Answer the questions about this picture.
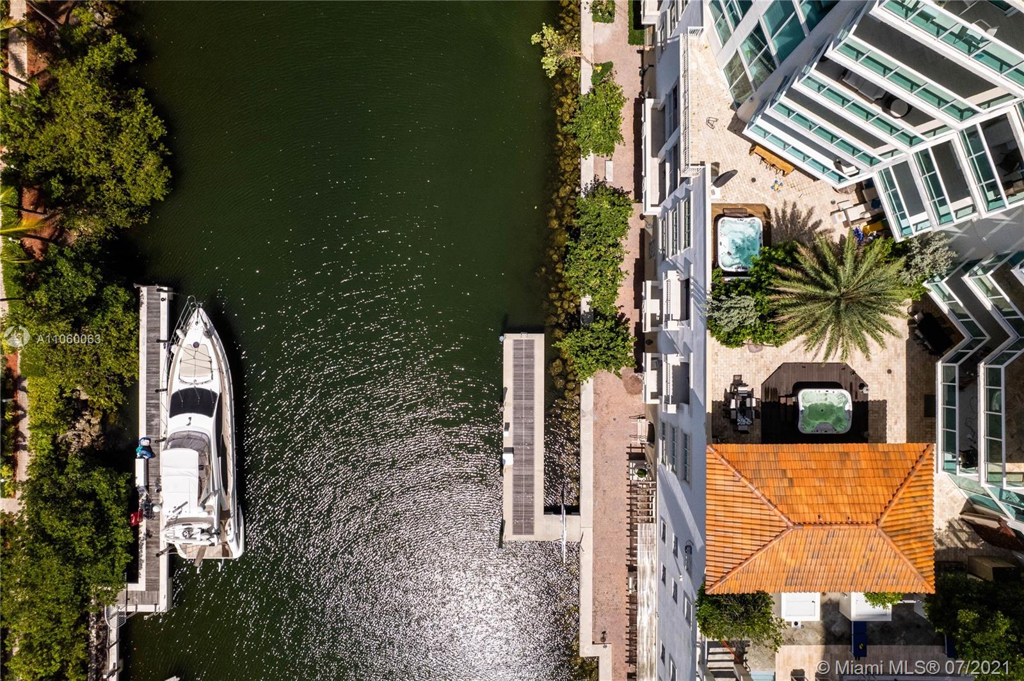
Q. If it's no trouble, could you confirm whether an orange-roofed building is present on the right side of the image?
Yes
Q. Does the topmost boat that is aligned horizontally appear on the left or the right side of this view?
left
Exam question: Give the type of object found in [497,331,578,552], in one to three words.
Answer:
pier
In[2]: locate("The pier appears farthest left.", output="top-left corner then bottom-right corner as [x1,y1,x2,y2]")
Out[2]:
[118,284,178,616]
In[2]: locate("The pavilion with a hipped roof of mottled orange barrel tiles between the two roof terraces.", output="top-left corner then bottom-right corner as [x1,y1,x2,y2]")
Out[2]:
[703,442,939,597]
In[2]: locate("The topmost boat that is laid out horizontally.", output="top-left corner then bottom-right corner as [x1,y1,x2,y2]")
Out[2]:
[152,525,213,547]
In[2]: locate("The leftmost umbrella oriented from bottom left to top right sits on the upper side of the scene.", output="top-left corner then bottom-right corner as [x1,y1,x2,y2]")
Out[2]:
[712,169,738,203]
